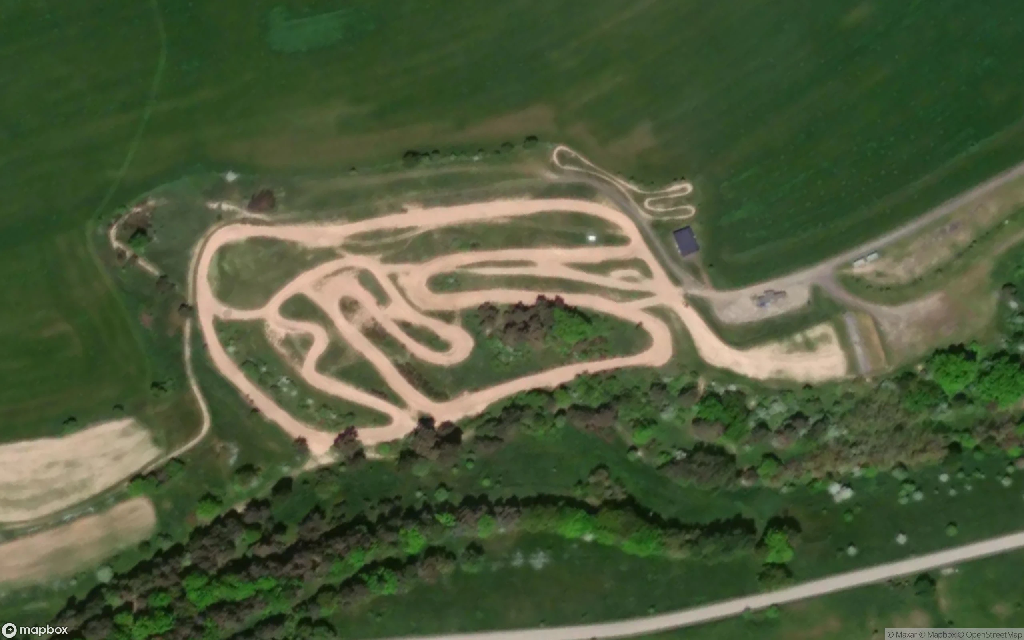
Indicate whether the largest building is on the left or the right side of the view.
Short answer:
right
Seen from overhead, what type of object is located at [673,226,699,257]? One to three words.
building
